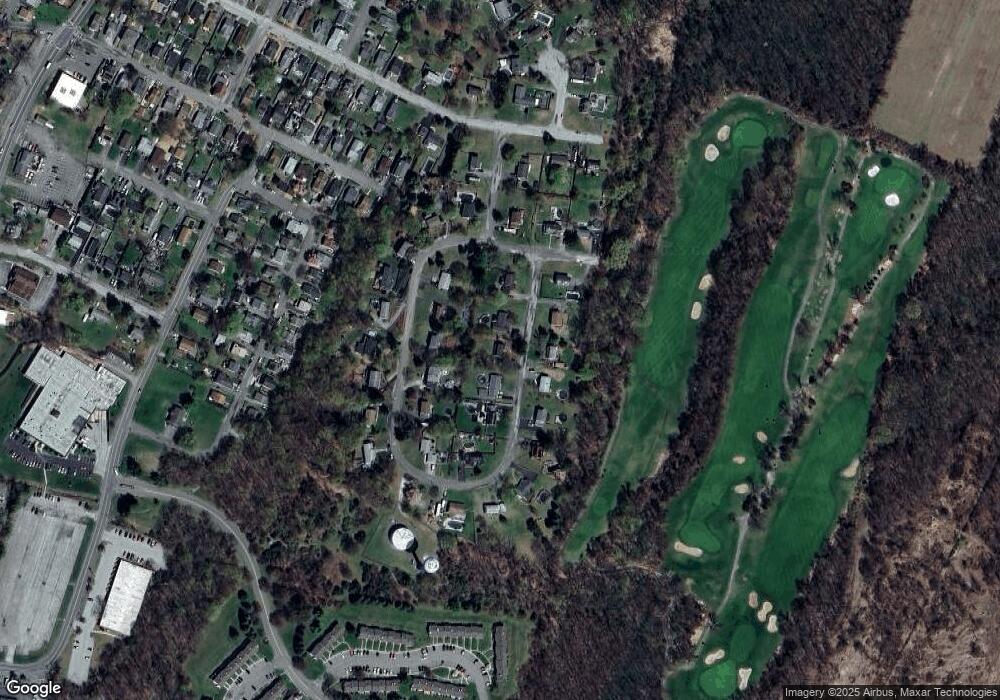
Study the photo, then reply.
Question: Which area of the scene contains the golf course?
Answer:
right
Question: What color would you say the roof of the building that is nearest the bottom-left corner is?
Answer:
white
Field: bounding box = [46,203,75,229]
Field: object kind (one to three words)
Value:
building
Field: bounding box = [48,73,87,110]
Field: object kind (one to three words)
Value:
building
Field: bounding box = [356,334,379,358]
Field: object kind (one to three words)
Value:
house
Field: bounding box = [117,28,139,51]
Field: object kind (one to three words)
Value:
house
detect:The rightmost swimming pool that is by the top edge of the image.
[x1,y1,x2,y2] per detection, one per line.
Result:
[534,11,553,26]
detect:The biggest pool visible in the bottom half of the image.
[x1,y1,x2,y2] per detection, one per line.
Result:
[445,516,464,531]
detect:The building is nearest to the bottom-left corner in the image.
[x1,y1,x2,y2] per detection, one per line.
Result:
[98,560,152,637]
